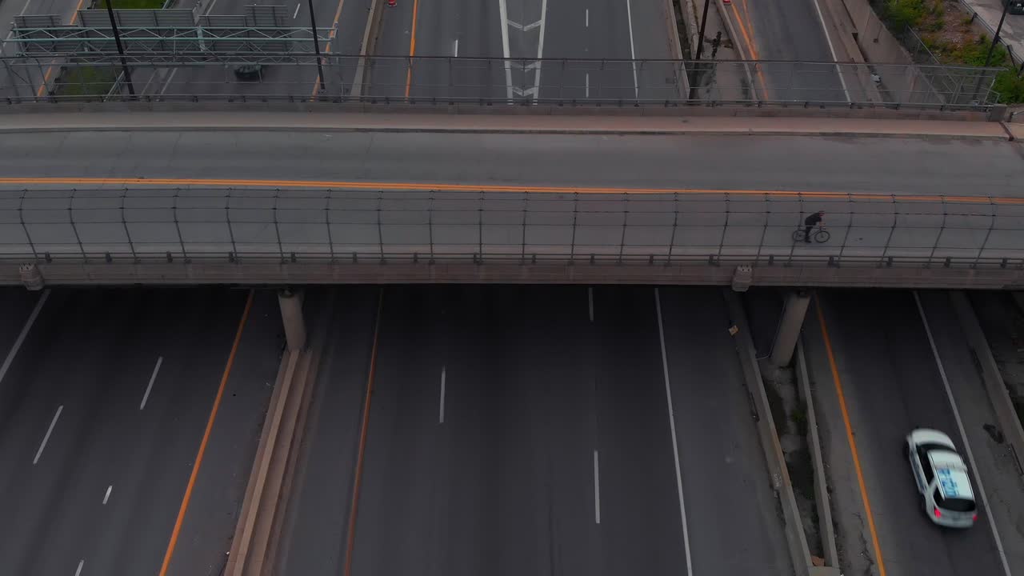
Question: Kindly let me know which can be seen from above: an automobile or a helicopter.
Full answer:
There is an automobile in the scene.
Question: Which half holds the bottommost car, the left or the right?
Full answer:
The bottommost car sits on the right side.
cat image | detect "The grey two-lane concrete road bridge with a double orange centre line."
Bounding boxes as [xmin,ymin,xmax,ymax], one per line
[0,101,1024,368]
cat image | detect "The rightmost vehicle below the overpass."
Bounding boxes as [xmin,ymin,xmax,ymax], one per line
[907,428,983,528]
